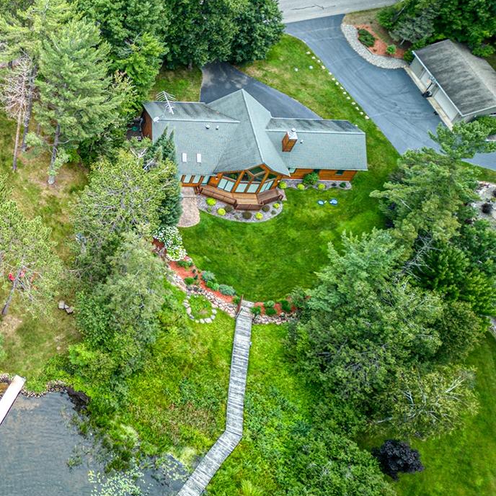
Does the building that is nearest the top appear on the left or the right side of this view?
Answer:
right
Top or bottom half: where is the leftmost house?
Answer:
top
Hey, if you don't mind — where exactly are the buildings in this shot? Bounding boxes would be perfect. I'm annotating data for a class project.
[416,38,496,123]
[142,84,369,215]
